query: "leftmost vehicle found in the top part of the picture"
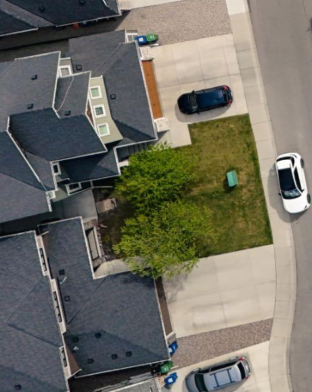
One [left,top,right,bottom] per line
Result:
[176,85,234,116]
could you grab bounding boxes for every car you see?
[276,150,312,215]
[186,356,255,392]
[176,85,234,116]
